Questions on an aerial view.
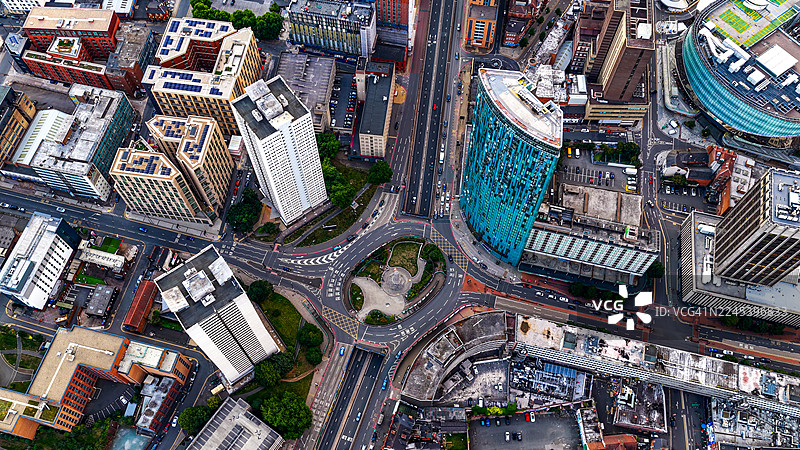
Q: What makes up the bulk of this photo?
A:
buildings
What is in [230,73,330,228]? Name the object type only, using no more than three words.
building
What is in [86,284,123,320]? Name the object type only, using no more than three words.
building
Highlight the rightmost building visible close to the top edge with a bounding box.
[677,0,800,144]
